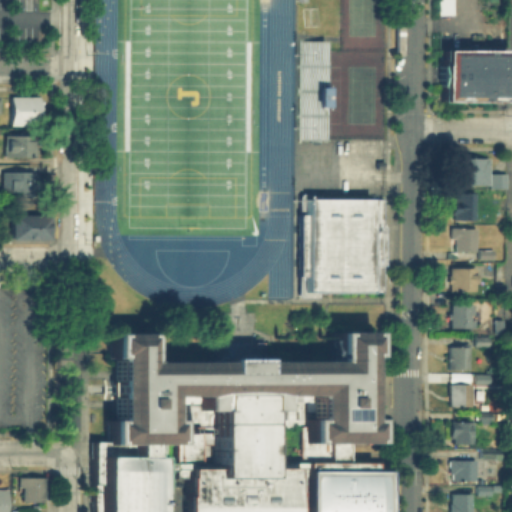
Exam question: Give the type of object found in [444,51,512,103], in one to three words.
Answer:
building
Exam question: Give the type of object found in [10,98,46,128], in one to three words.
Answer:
house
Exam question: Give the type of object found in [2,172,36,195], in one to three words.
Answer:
house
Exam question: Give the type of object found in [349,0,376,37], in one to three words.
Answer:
tennis court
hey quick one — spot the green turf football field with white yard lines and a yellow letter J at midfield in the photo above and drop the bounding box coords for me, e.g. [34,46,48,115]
[117,0,260,236]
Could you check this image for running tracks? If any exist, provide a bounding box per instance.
[97,0,296,303]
